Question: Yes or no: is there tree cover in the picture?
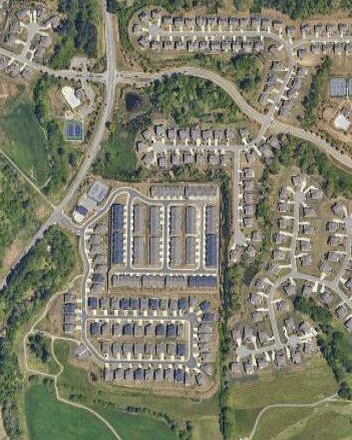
Yes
